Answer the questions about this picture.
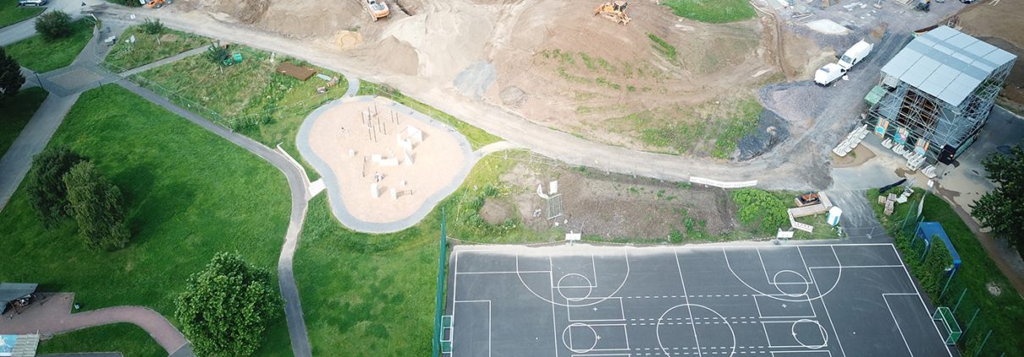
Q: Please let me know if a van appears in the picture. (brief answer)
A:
Yes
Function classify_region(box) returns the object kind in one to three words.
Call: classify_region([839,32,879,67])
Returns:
van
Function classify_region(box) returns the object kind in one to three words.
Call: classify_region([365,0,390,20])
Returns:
work vehicle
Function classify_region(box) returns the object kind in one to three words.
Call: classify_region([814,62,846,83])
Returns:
vehicle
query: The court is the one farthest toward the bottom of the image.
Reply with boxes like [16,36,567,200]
[434,239,964,357]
